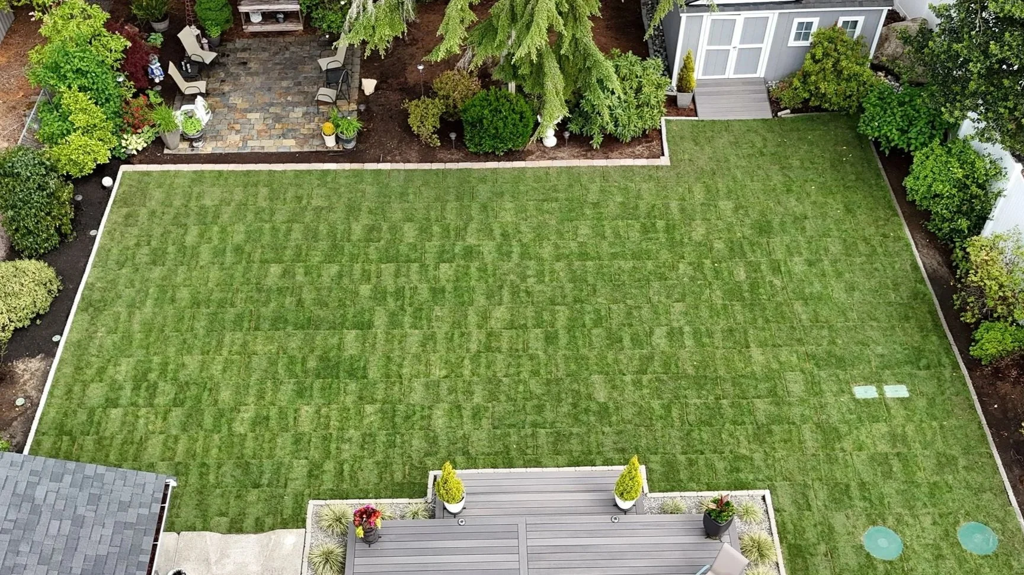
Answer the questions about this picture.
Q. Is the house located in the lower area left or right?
left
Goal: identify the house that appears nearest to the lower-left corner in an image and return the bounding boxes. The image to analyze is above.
[0,447,177,575]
